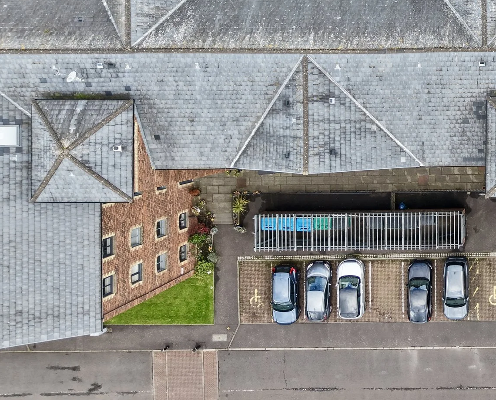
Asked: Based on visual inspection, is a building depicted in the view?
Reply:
Yes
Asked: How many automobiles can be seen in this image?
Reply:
5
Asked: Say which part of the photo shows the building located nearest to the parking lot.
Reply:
right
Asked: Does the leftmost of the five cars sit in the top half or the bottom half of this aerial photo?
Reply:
bottom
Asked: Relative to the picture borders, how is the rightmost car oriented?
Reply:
up and down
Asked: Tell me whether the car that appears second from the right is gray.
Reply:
Yes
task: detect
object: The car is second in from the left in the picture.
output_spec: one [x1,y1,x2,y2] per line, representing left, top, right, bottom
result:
[305,258,335,319]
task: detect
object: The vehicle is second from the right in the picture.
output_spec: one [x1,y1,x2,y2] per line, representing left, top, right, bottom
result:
[406,256,435,320]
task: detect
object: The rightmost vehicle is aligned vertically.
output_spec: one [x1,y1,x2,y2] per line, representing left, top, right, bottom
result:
[441,254,469,315]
